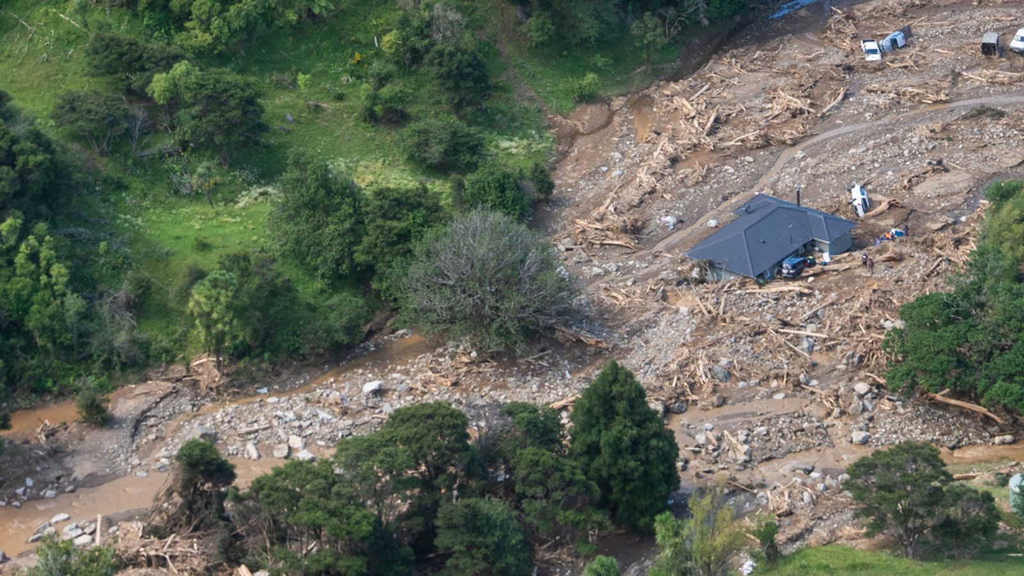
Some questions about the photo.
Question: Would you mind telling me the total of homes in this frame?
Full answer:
The photo contains exactly 1 home.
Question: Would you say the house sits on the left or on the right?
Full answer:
The house sits on the right side.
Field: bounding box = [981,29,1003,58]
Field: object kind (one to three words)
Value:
truck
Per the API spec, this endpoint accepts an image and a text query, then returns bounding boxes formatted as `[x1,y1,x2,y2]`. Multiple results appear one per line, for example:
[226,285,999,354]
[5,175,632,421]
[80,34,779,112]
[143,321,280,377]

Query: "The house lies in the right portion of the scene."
[685,188,855,286]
